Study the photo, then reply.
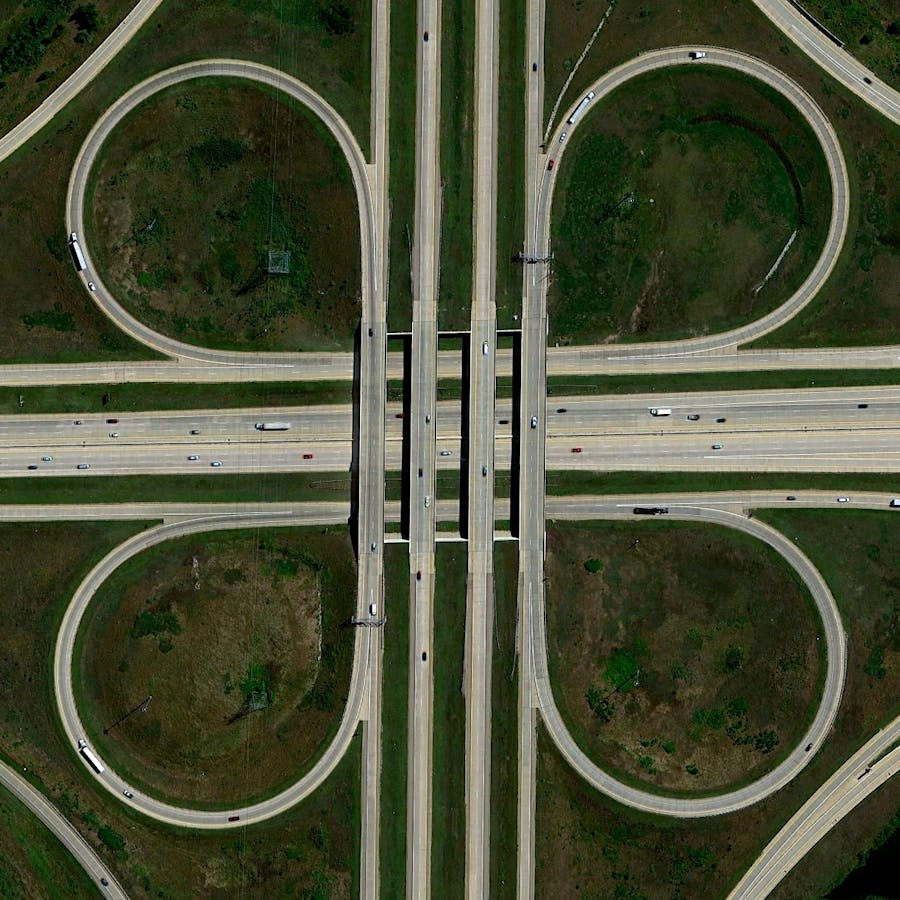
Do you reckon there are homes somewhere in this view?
No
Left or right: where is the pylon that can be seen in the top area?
left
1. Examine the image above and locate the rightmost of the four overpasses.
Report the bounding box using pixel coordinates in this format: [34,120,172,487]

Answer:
[519,318,547,551]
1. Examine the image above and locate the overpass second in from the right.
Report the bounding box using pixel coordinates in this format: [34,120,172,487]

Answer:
[468,320,497,552]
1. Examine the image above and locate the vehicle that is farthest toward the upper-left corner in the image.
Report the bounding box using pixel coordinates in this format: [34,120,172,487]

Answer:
[71,233,86,272]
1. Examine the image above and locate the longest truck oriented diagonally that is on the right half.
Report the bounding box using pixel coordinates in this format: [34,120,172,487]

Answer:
[567,91,594,124]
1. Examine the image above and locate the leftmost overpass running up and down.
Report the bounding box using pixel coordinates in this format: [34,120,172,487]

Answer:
[358,323,387,554]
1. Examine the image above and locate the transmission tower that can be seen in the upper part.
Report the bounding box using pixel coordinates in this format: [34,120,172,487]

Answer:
[257,250,294,272]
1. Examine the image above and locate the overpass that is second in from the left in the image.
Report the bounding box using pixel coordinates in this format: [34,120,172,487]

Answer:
[409,322,438,553]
